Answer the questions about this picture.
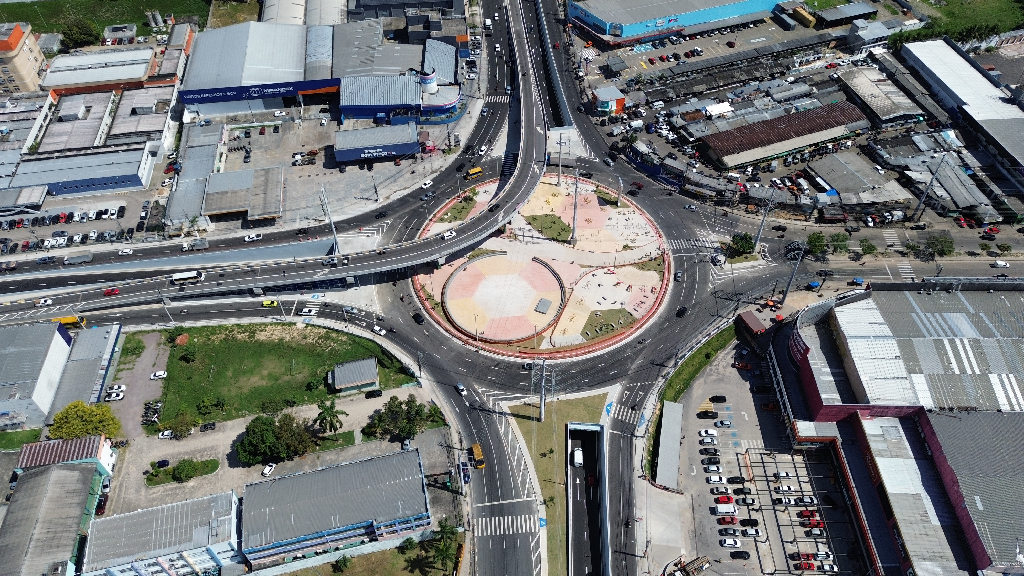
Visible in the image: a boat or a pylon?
pylon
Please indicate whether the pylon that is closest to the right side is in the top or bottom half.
top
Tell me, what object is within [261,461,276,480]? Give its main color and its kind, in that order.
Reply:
white car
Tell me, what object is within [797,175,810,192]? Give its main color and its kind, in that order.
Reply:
white vehicle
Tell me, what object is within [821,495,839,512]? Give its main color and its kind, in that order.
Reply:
black car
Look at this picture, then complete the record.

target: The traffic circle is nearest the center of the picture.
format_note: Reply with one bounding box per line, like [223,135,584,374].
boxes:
[369,155,714,394]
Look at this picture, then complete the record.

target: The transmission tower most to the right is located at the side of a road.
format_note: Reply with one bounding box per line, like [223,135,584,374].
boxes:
[910,154,955,222]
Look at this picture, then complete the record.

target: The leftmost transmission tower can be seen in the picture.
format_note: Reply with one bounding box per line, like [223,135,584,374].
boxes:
[321,182,342,255]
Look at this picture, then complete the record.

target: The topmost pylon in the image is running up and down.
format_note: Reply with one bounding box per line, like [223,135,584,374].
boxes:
[553,122,568,182]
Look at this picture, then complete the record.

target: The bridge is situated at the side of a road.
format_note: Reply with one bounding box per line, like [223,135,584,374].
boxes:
[0,0,550,326]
